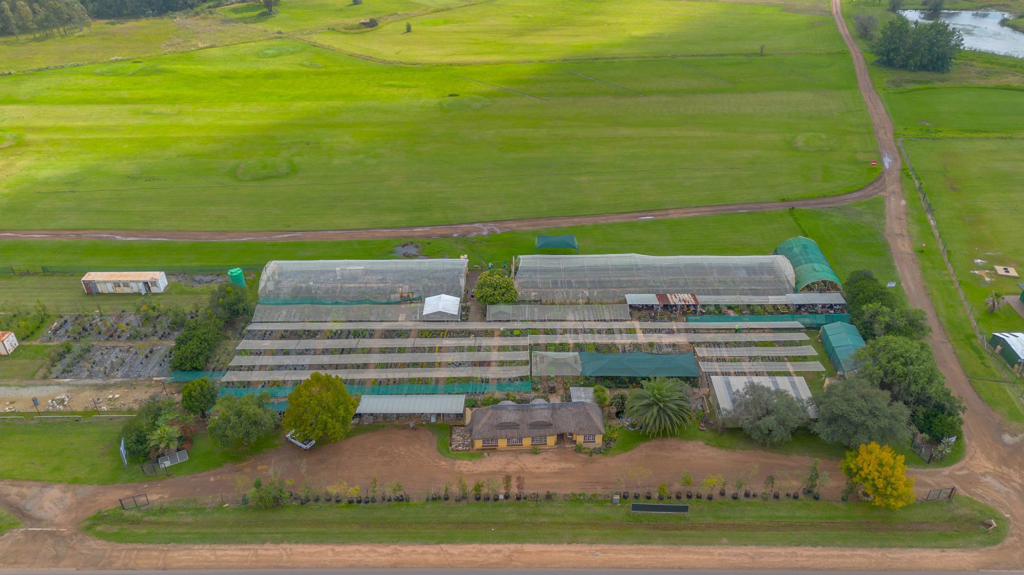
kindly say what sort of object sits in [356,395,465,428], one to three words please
shed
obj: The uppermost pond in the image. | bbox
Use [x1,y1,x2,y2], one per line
[905,9,1024,58]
